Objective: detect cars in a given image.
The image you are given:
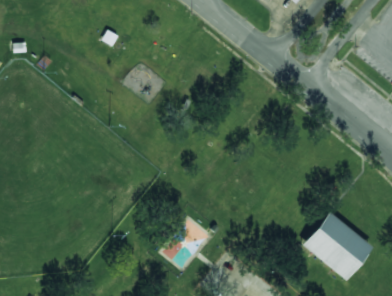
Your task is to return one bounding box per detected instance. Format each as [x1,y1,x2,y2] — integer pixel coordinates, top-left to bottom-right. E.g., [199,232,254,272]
[284,0,291,8]
[224,262,233,270]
